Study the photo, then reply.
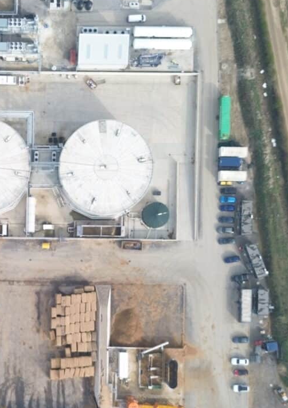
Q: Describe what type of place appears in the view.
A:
industrial area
